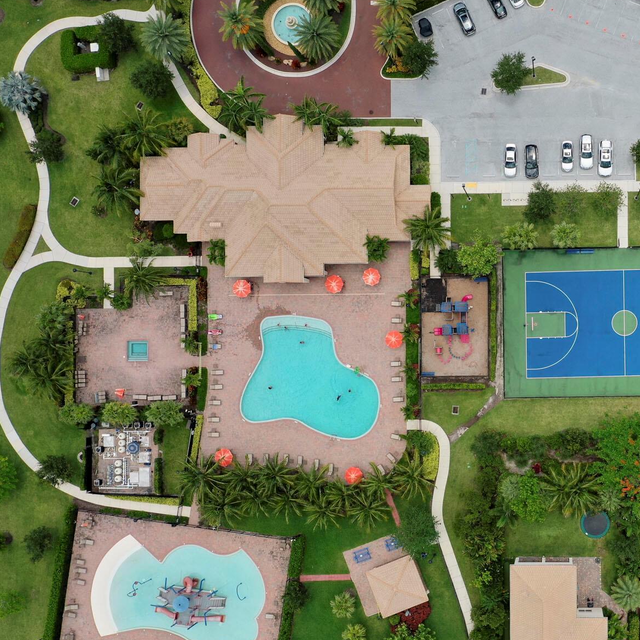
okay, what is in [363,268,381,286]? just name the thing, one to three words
umbrella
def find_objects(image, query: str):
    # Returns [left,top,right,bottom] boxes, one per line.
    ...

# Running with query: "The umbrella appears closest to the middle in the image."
[326,275,344,293]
